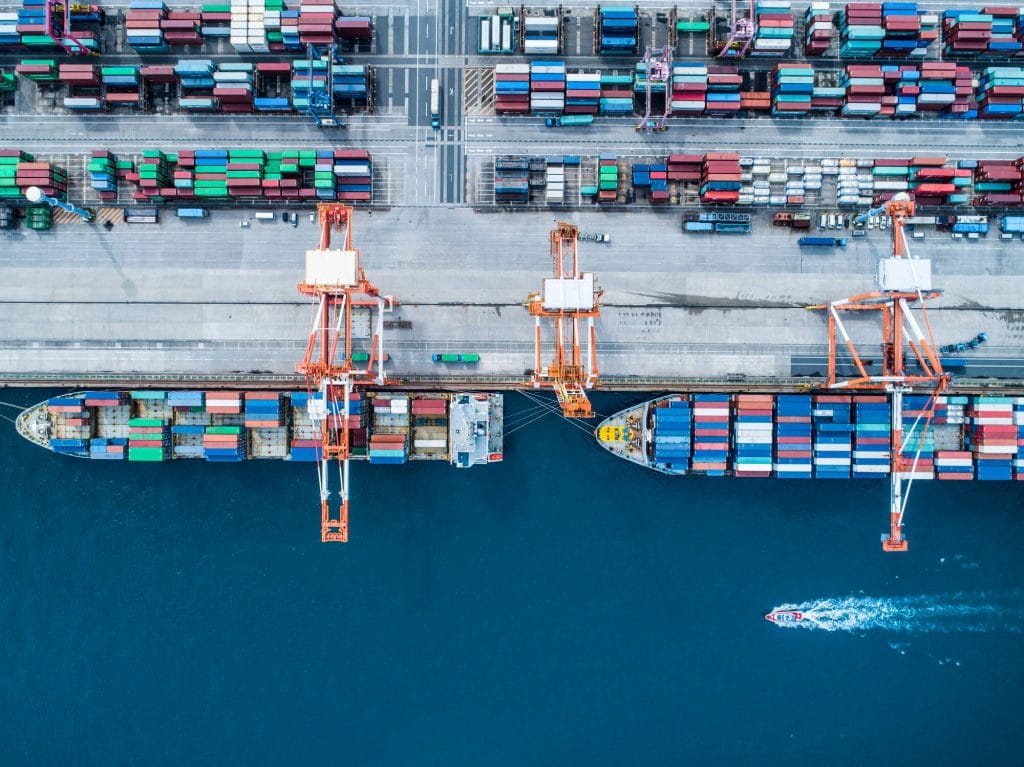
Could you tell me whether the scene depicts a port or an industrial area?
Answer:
port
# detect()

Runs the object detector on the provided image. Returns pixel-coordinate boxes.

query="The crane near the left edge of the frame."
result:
[44,0,95,54]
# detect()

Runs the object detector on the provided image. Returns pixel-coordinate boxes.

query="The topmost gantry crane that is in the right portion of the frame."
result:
[717,0,756,58]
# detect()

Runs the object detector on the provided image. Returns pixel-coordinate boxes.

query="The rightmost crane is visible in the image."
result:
[812,202,953,550]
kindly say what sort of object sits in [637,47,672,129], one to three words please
container crane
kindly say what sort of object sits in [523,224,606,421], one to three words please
container crane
